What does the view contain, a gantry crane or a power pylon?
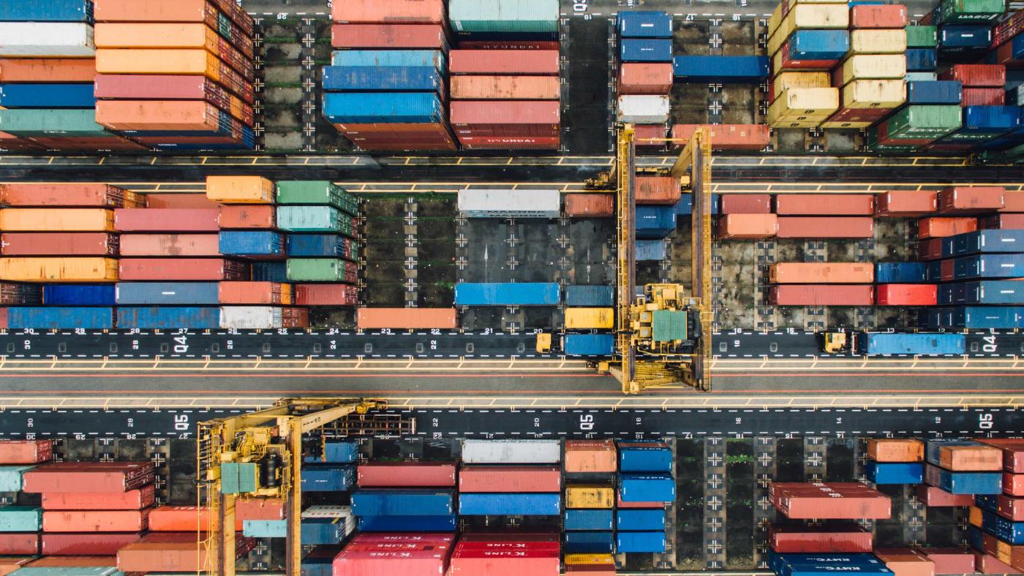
gantry crane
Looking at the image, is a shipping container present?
Yes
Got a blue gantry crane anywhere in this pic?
No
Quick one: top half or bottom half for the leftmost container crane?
bottom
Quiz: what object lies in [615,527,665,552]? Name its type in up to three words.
shipping container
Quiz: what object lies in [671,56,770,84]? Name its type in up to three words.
shipping container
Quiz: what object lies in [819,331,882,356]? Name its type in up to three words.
truck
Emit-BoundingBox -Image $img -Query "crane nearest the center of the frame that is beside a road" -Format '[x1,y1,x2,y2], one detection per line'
[582,123,716,395]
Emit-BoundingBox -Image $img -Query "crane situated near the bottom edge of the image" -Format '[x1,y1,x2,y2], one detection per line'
[187,399,394,576]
